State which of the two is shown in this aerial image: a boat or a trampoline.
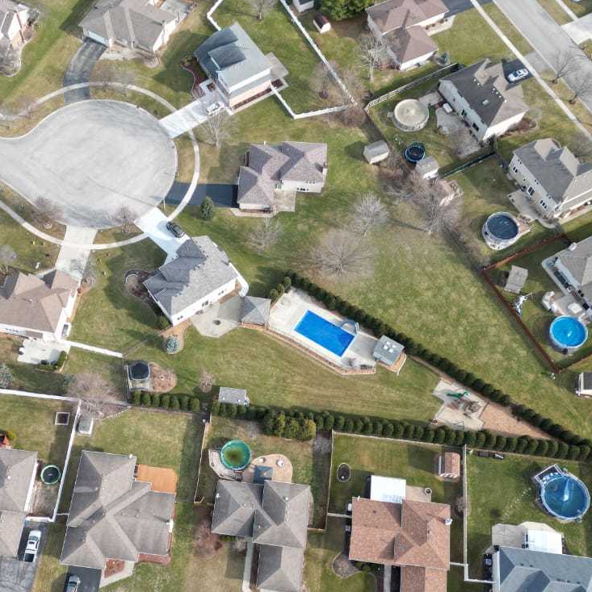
trampoline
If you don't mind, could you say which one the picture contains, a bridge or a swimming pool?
swimming pool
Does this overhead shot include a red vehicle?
No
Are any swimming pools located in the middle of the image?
Yes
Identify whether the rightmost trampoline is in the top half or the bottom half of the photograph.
top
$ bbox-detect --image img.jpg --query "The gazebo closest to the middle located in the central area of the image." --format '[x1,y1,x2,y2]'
[240,294,270,329]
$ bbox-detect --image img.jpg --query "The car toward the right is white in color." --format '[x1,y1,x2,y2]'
[506,66,531,81]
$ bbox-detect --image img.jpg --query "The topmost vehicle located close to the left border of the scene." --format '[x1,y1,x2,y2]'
[22,529,40,564]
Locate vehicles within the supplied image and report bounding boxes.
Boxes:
[64,575,78,592]
[203,100,224,114]
[165,218,187,239]
[506,66,531,81]
[22,529,40,564]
